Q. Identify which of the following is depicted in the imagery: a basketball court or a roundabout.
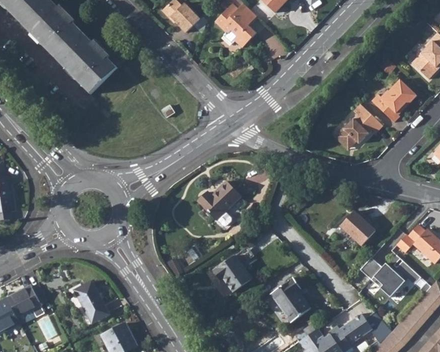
roundabout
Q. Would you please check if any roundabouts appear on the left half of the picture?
Yes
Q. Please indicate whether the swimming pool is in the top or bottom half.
bottom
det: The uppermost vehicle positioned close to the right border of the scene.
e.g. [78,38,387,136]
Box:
[410,114,426,130]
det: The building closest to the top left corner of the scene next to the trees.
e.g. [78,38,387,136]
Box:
[0,0,117,96]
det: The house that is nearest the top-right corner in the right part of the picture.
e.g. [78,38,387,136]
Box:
[412,33,440,81]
